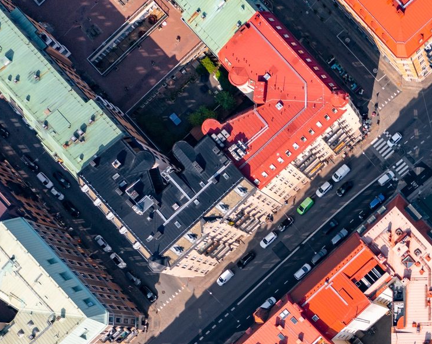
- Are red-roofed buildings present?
Yes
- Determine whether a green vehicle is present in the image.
Yes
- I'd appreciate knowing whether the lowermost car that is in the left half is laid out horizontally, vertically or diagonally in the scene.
diagonally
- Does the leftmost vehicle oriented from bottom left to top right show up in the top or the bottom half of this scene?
bottom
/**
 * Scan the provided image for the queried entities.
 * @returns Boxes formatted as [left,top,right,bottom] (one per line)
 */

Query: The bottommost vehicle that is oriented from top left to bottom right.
[139,282,159,303]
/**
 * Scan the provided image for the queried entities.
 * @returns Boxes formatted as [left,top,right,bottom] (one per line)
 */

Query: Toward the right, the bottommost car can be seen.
[259,295,278,312]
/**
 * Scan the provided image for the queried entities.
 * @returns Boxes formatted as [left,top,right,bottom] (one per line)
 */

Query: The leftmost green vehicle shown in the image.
[295,193,317,218]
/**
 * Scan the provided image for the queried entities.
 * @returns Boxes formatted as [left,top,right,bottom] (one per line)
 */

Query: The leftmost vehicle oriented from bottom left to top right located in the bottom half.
[215,265,237,289]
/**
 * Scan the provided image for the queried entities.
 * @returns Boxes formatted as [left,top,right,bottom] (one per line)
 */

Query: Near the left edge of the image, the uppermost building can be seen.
[0,0,148,176]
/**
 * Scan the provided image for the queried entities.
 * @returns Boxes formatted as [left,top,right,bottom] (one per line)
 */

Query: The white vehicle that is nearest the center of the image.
[260,230,278,249]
